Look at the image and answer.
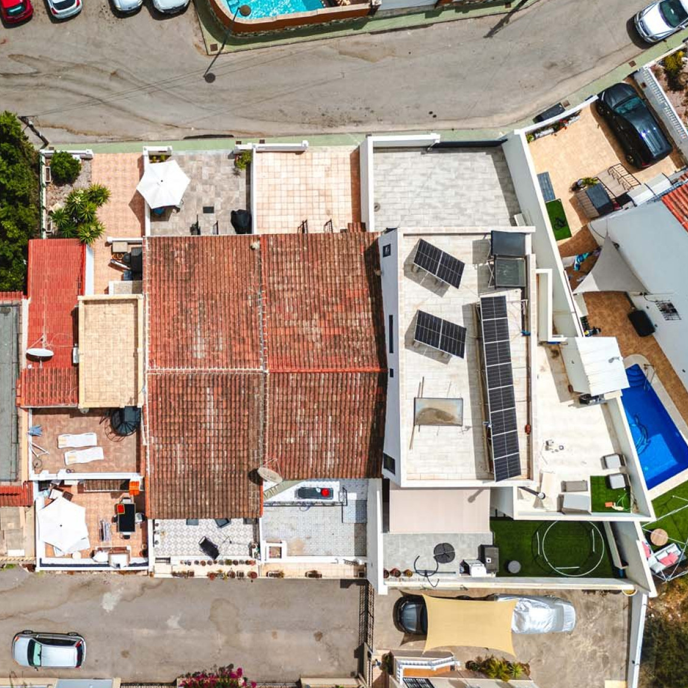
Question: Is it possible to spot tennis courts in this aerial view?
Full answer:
No, the frame has no tennis court in it.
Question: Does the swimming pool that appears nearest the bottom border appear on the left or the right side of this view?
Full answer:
You can find the swimming pool that appears nearest the bottom border on the right side of the picture.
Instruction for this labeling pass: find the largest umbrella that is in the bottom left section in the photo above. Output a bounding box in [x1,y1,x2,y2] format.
[37,496,87,554]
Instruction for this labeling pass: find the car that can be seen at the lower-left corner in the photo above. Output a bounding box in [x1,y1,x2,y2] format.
[12,628,86,672]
